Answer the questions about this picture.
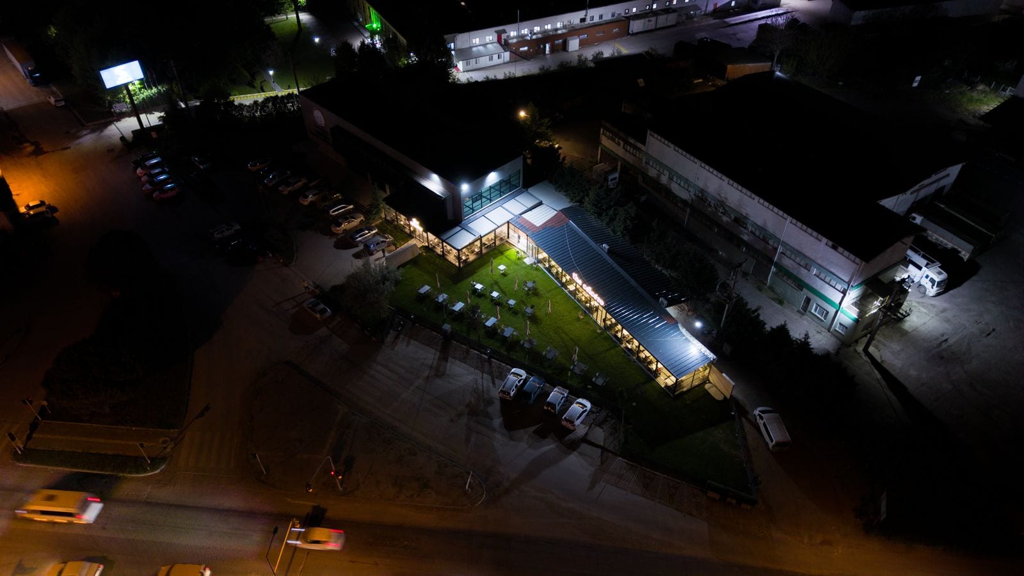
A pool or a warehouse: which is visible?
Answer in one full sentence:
The one in the frame is a warehouse.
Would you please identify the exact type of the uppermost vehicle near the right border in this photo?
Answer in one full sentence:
In the photo, the uppermost vehicle near the right border shows up as a truck.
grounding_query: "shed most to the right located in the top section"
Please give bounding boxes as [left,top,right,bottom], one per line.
[981,90,1024,141]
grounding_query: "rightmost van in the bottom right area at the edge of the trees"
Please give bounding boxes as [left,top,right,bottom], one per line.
[754,408,792,451]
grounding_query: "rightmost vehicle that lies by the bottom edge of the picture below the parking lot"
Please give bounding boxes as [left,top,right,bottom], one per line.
[288,526,342,554]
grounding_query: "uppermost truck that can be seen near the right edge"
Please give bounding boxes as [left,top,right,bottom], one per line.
[914,212,991,265]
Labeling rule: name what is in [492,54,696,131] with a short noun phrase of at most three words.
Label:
shed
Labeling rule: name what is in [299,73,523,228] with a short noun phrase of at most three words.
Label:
building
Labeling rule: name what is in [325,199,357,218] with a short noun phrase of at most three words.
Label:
car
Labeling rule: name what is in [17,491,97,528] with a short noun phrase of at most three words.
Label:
vehicle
